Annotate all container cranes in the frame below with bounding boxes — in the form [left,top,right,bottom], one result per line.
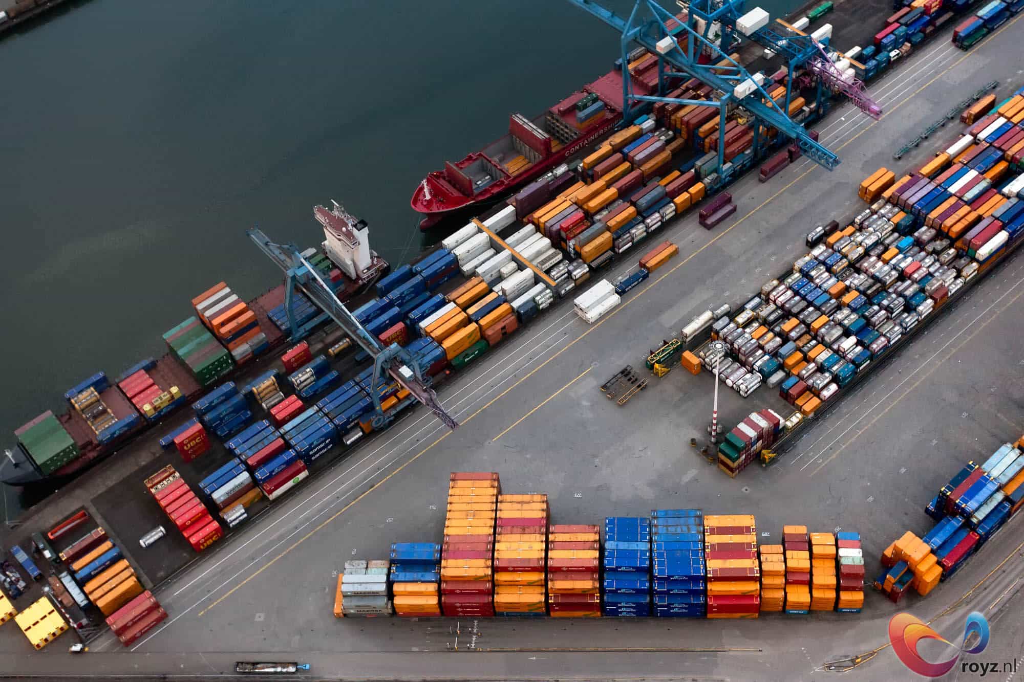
[561,0,844,188]
[674,0,884,137]
[238,224,465,435]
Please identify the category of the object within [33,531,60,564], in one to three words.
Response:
truck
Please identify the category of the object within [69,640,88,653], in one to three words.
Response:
vehicle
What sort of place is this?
port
